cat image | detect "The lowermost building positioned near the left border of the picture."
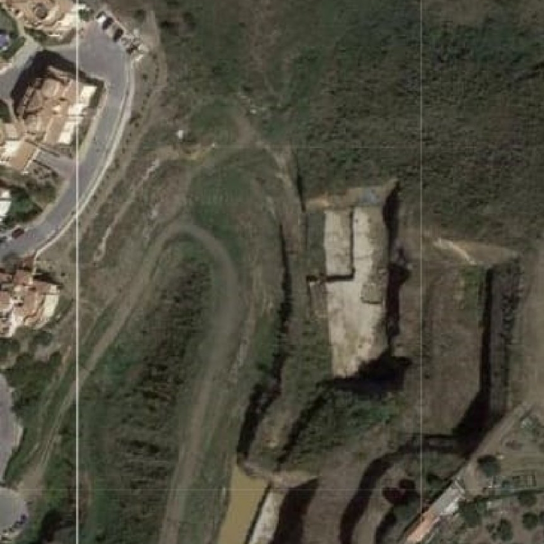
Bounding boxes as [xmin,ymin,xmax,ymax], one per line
[0,268,59,336]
